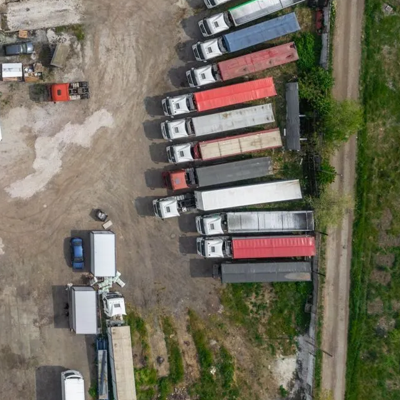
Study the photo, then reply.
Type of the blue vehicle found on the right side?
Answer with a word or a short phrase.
truck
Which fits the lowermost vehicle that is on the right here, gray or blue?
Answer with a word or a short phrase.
gray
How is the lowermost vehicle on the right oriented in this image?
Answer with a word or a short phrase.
from side to side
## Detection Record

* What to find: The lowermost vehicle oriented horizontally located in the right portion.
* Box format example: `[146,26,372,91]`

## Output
[215,258,313,283]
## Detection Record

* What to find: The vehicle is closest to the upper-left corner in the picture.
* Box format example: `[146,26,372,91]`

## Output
[2,40,34,57]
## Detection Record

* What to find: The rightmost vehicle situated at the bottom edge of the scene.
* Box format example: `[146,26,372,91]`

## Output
[103,293,137,400]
